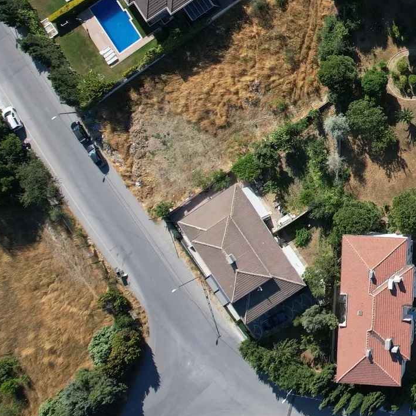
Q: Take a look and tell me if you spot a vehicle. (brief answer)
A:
Yes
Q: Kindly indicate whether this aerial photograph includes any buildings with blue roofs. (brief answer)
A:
No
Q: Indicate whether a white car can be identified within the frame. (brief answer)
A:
Yes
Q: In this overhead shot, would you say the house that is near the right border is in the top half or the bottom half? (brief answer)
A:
bottom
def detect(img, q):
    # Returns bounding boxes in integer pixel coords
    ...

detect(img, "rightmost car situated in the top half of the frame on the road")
[85,145,106,170]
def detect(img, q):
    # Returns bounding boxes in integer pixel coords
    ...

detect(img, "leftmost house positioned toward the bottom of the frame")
[177,183,309,324]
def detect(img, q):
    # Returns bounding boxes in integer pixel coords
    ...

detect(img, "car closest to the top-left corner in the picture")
[0,105,22,131]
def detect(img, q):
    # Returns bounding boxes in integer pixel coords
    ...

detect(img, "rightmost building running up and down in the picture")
[335,230,416,388]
